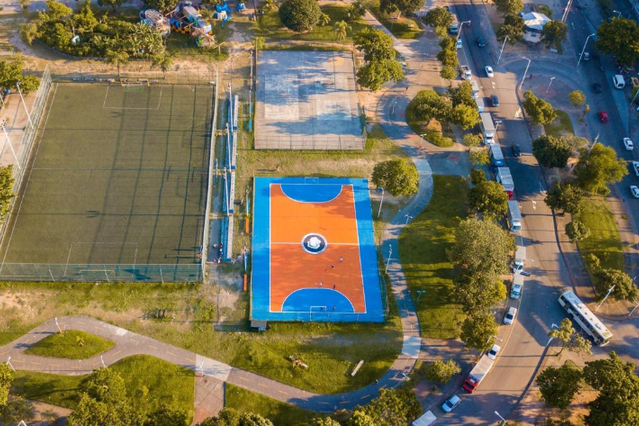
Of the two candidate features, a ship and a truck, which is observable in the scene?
truck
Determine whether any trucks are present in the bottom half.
Yes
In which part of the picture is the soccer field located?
left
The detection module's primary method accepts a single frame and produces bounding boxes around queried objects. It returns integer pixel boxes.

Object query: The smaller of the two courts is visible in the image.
[255,50,363,150]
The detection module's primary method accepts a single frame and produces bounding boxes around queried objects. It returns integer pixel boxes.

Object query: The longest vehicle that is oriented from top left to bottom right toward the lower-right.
[555,291,611,350]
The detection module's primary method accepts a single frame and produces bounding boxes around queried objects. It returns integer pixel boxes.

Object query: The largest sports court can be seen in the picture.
[248,176,385,322]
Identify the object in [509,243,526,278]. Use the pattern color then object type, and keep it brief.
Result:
white vehicle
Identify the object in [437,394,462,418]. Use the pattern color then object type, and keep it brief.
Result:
blue car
